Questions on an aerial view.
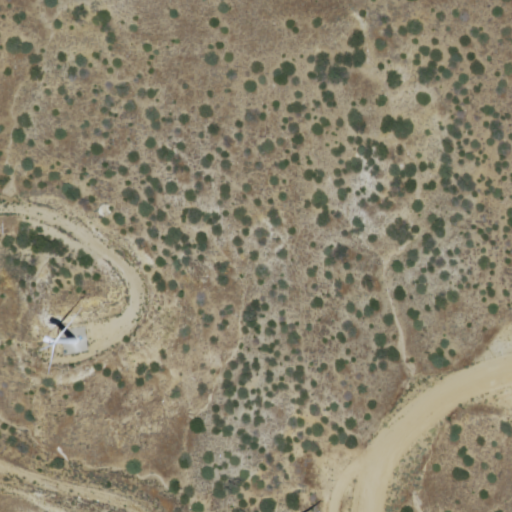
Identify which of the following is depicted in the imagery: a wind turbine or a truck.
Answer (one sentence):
I can see a wind turbine in this picture.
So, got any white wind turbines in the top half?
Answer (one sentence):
No, I see no white wind turbine in the top half.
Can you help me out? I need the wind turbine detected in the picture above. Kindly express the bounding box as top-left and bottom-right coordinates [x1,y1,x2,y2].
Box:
[36,310,82,373]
